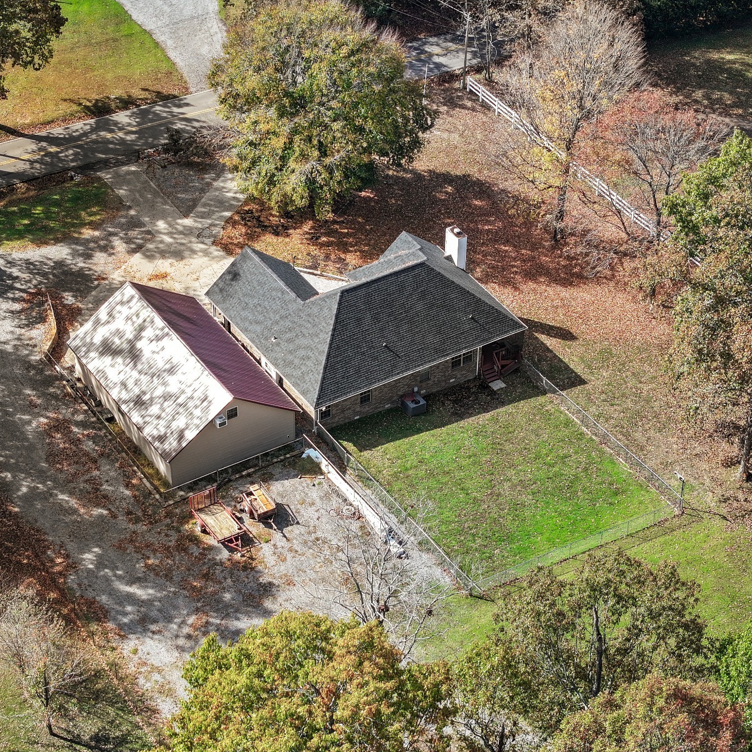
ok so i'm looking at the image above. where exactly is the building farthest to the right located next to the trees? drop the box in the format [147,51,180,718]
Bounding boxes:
[205,226,528,436]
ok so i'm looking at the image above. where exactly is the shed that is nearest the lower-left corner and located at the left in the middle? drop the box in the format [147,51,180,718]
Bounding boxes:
[67,282,301,488]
